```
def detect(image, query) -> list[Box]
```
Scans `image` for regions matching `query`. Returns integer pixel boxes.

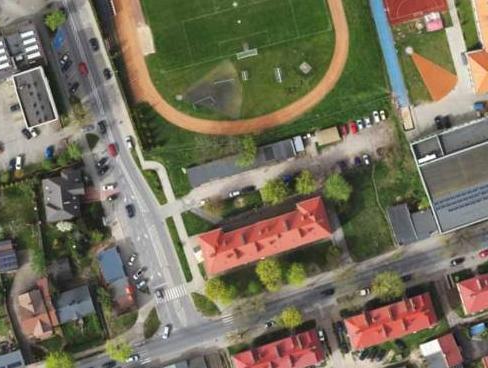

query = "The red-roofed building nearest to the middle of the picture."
[197,197,333,278]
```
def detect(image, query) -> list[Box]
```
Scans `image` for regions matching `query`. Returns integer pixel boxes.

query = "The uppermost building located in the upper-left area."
[0,25,48,84]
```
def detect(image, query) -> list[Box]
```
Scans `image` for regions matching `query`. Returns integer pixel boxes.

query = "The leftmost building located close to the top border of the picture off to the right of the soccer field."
[423,9,444,31]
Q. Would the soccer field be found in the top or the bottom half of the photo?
top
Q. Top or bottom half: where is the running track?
top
